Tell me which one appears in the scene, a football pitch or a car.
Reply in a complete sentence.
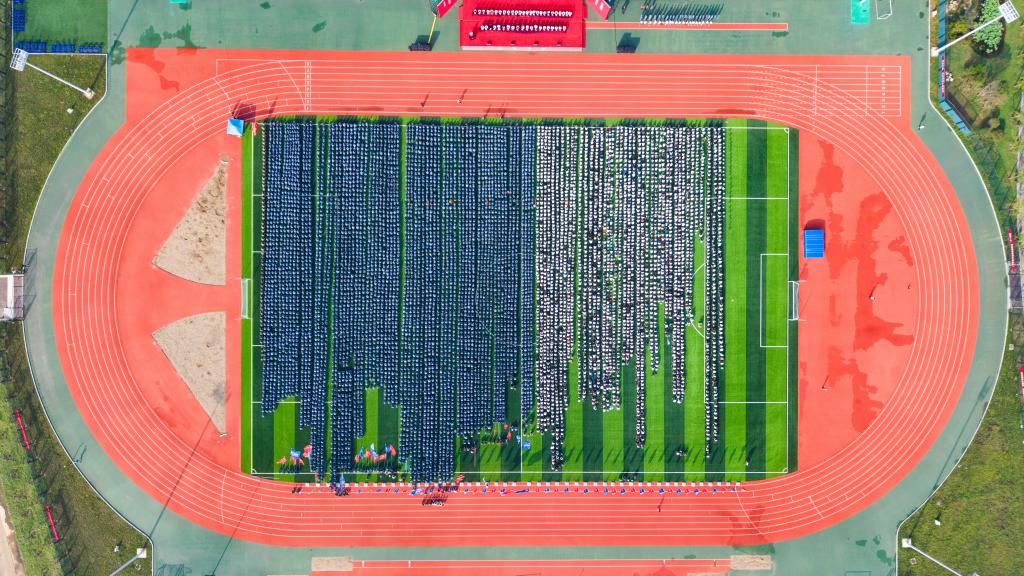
It is a football pitch that can be seen here.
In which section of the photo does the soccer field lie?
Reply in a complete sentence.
The soccer field is in the center part of the image.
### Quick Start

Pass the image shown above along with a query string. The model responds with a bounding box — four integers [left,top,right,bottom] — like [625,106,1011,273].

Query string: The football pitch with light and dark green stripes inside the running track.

[241,114,799,483]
